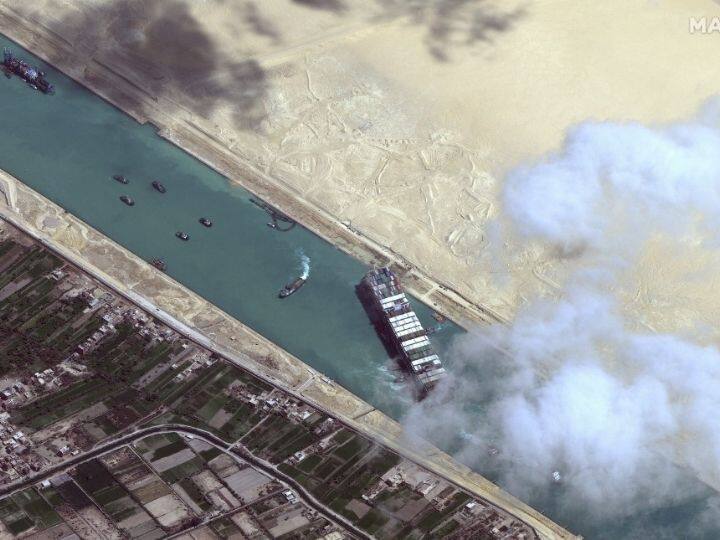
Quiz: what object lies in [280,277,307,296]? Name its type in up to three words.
ship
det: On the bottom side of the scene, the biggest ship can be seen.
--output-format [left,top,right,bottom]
[371,271,452,405]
